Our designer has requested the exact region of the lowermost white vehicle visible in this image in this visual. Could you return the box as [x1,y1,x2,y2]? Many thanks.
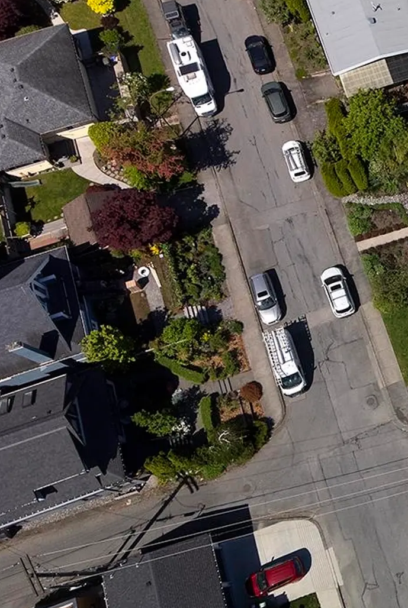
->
[252,322,311,405]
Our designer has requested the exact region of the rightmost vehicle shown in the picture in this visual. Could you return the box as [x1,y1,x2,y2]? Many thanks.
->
[320,264,359,322]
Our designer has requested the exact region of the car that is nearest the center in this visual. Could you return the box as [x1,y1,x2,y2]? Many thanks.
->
[249,272,285,326]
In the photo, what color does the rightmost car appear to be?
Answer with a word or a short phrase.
white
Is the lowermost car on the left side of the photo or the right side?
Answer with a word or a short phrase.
right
